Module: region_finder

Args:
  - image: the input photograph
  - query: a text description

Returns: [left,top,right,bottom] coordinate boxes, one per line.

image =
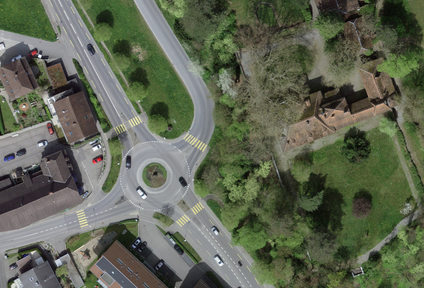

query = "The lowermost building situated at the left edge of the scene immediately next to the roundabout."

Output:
[0,151,84,232]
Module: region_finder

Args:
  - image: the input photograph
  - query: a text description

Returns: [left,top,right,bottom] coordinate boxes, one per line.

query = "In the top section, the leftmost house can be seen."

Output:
[0,56,38,101]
